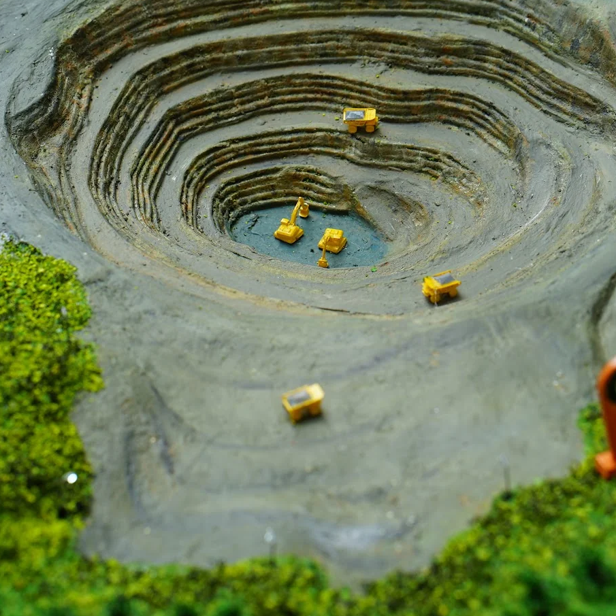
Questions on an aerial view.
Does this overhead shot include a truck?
Yes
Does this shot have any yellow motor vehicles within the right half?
Yes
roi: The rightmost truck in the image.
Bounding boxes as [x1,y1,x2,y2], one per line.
[421,269,459,301]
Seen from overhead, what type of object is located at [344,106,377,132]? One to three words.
truck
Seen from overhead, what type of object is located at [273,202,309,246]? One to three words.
work vehicle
